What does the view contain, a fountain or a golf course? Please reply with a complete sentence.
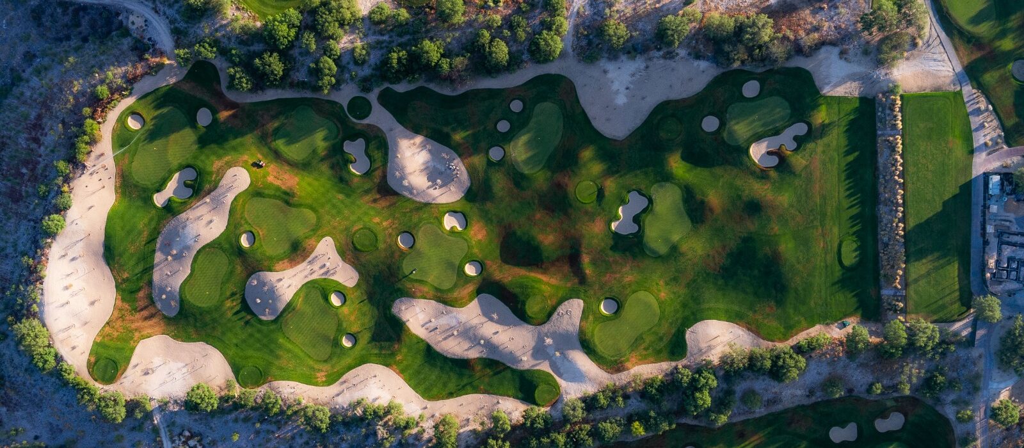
The image shows a golf course.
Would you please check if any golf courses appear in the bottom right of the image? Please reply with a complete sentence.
Yes, a golf course is visible in the bottom right of the image.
